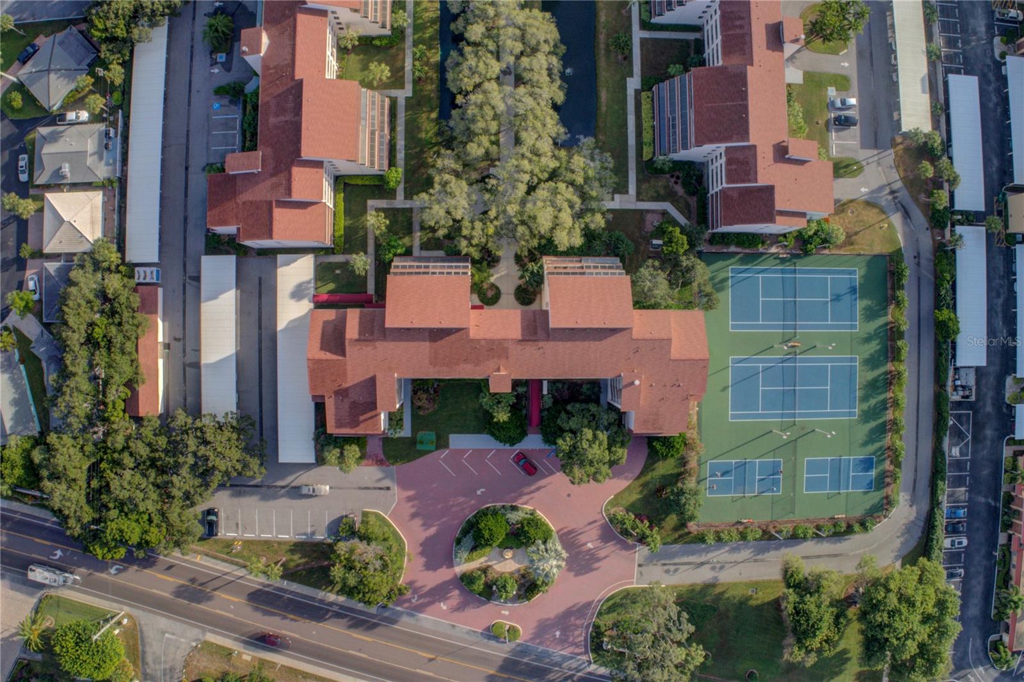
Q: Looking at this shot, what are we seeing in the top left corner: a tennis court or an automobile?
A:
automobile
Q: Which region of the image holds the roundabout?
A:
bottom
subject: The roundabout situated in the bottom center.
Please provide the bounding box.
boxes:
[454,505,560,604]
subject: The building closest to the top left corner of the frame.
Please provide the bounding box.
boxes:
[17,25,104,112]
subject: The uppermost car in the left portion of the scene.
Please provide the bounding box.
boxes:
[12,38,38,66]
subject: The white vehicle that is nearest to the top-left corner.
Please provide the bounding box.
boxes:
[54,108,87,121]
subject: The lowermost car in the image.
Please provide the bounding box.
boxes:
[258,633,287,650]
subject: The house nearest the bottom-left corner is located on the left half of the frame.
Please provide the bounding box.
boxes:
[0,335,48,444]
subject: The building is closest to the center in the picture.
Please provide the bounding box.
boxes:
[307,257,709,436]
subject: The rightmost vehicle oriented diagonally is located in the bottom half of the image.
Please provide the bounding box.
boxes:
[512,451,538,477]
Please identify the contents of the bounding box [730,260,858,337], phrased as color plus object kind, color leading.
blue tennis court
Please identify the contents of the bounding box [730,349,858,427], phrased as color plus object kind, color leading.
blue tennis court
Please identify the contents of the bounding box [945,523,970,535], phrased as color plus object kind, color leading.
black vehicle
